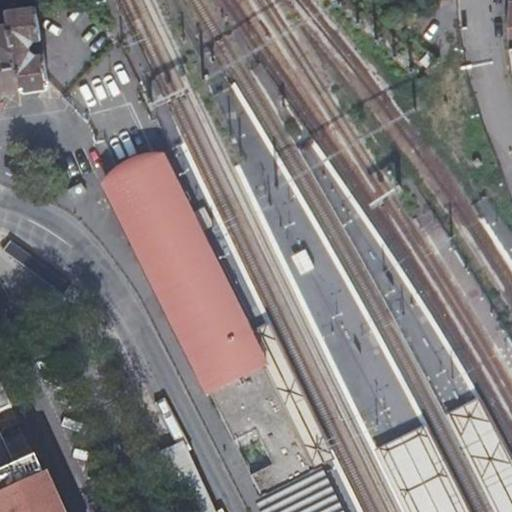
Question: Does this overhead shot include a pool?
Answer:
No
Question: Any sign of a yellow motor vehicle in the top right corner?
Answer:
No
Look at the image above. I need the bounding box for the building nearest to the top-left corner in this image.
[0,5,48,97]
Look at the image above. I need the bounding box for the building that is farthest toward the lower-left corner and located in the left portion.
[0,449,72,512]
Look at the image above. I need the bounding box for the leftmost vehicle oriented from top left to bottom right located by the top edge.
[42,18,63,36]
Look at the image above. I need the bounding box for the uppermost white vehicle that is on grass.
[422,20,440,41]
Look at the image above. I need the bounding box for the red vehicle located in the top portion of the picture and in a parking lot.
[89,148,102,168]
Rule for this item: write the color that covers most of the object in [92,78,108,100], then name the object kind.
white vehicle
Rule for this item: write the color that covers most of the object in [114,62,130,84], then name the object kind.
white car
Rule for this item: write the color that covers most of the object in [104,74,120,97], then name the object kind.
white vehicle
